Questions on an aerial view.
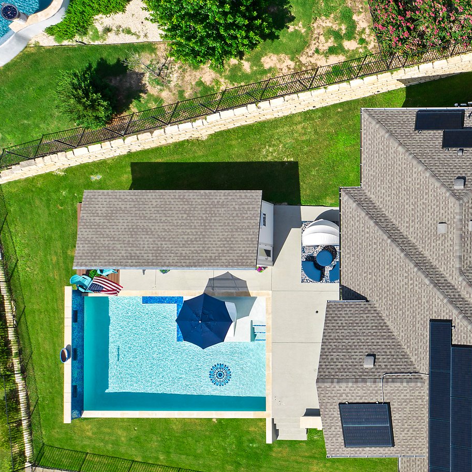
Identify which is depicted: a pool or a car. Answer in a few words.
pool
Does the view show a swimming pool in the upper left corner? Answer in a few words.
Yes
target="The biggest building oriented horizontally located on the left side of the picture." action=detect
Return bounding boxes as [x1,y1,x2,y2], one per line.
[78,190,276,270]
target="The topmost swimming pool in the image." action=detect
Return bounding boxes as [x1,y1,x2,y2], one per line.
[0,0,77,73]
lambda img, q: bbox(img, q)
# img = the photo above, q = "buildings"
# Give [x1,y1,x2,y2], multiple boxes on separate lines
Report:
[317,105,472,472]
[78,190,276,270]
